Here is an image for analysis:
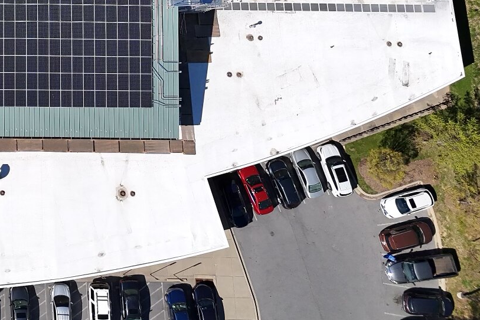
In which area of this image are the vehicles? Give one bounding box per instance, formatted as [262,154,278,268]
[401,290,457,318]
[378,221,438,250]
[293,149,325,198]
[239,168,271,215]
[165,287,191,320]
[120,279,144,320]
[9,287,33,320]
[51,283,74,320]
[320,143,356,198]
[379,189,439,216]
[384,256,468,285]
[222,175,251,225]
[268,159,302,209]
[88,280,114,320]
